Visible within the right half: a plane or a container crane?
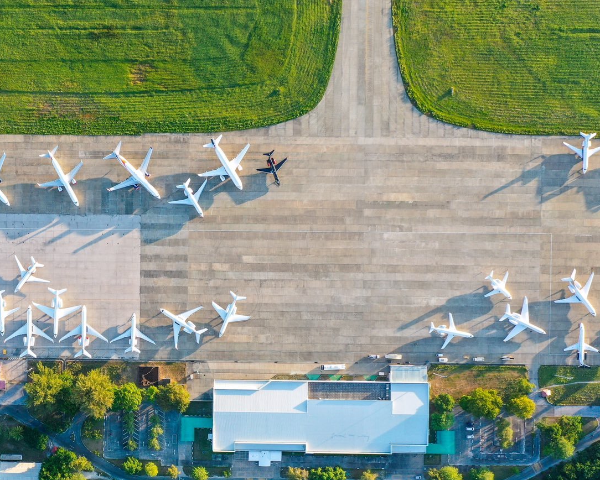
plane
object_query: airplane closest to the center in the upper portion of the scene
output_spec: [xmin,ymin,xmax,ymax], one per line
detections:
[256,149,288,186]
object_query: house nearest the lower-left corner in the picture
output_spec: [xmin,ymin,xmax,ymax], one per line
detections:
[0,462,43,480]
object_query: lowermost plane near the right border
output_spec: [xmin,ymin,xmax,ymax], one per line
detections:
[562,323,600,368]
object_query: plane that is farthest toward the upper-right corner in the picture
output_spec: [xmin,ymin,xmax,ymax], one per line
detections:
[562,131,600,174]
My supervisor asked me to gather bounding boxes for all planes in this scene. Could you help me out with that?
[484,270,511,299]
[112,313,157,354]
[14,254,51,292]
[211,292,251,337]
[0,291,20,336]
[256,149,288,186]
[556,270,597,316]
[60,306,108,357]
[198,134,250,189]
[39,147,83,206]
[170,175,208,217]
[31,288,81,337]
[501,295,546,342]
[106,143,161,199]
[432,313,473,348]
[161,305,208,348]
[562,323,600,368]
[562,131,600,174]
[4,306,54,357]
